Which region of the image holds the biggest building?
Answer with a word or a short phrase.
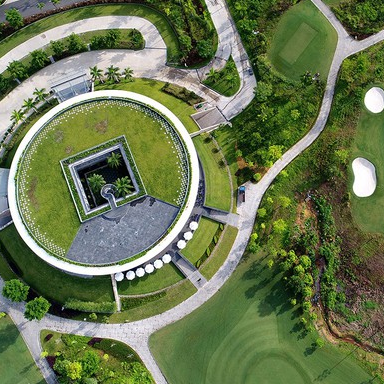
left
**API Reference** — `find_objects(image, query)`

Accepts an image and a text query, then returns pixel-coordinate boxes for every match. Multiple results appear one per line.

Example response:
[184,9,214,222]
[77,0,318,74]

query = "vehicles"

[248,69,254,77]
[239,185,246,201]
